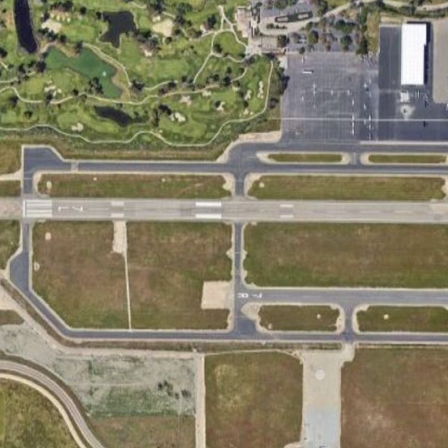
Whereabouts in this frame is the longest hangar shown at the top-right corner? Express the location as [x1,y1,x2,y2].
[401,23,426,85]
